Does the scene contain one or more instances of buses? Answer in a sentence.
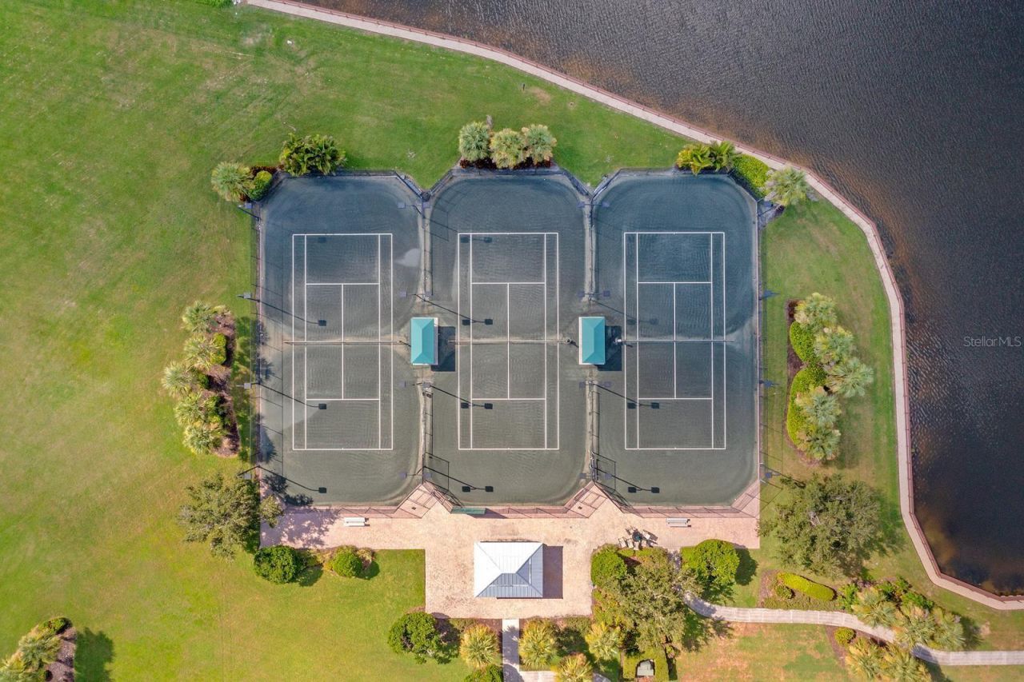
No, the picture doesn't show any bus.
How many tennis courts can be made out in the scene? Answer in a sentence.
There are 3 tennis courts in the image.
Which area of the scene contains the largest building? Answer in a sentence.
The largest building appears toward the bottom of the photo.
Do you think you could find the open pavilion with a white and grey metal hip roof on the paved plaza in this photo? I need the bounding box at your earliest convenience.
[474,540,543,599]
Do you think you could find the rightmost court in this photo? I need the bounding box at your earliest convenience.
[595,174,759,507]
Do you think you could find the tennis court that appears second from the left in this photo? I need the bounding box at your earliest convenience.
[427,174,591,507]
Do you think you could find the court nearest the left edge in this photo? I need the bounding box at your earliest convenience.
[260,176,424,507]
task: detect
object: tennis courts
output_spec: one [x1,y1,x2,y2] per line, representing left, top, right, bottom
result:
[595,174,759,507]
[260,176,424,507]
[427,174,591,507]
